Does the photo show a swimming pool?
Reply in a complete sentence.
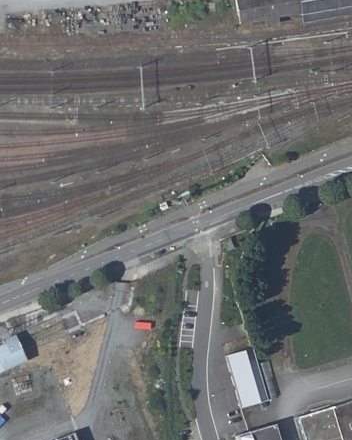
No, I find no swimming pool anywhere in the image.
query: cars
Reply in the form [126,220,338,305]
[184,312,195,317]
[158,248,168,255]
[183,324,194,328]
[228,410,238,416]
[167,244,178,252]
[230,418,240,424]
